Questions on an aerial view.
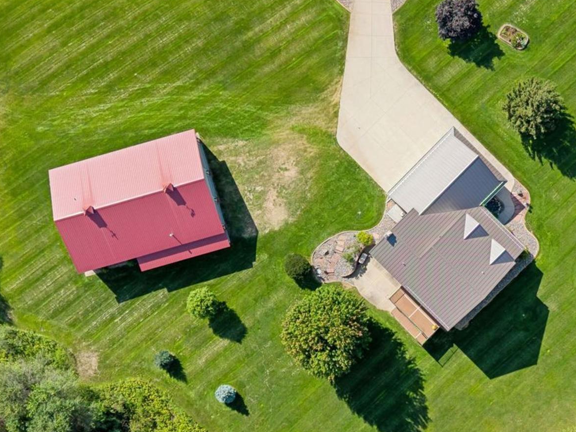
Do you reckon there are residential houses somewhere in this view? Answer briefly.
Yes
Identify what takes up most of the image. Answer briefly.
grass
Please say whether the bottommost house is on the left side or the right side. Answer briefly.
right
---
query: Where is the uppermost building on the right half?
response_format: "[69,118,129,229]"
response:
[386,127,508,214]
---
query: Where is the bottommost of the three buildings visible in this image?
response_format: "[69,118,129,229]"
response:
[369,202,523,332]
